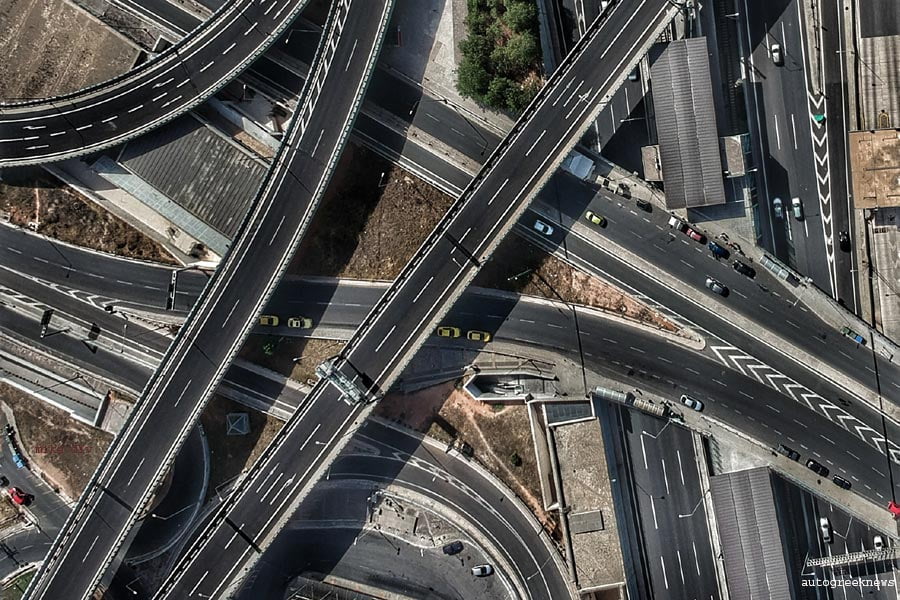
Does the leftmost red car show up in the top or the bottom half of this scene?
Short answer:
bottom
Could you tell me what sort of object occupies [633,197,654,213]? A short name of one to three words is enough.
car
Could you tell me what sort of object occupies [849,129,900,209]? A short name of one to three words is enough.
building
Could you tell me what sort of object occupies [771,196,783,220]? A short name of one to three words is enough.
vehicle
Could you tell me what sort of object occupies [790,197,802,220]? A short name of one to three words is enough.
vehicle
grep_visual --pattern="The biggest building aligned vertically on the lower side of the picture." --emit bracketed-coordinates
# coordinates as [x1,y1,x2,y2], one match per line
[541,395,626,593]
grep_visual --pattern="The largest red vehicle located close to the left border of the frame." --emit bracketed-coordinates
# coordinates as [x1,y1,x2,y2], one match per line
[4,487,29,508]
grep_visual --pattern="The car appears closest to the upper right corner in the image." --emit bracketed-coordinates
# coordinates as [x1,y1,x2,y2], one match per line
[769,41,782,65]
